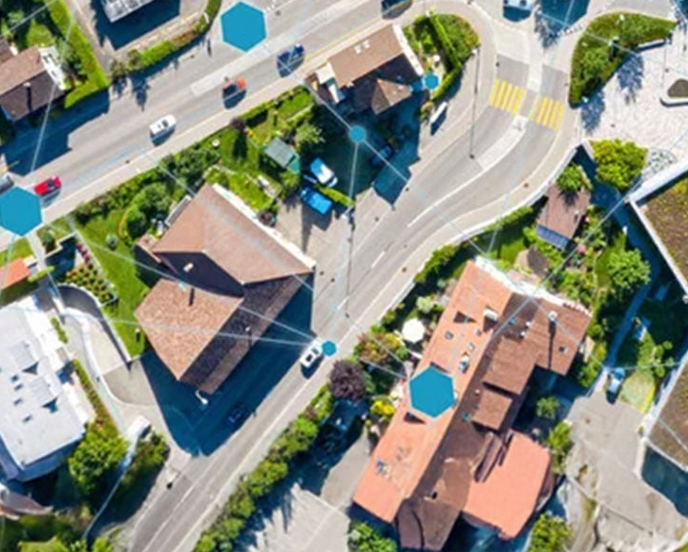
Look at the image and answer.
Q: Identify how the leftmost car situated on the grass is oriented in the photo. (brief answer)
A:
at an angle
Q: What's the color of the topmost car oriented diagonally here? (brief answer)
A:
blue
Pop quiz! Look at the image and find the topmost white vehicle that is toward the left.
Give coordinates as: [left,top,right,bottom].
[149,117,176,137]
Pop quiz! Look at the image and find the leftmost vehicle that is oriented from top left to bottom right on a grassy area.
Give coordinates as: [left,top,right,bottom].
[312,158,336,186]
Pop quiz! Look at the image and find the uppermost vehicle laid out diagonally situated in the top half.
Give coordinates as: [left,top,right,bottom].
[277,46,303,67]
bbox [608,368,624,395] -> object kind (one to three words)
car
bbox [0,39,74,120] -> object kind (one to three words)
house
